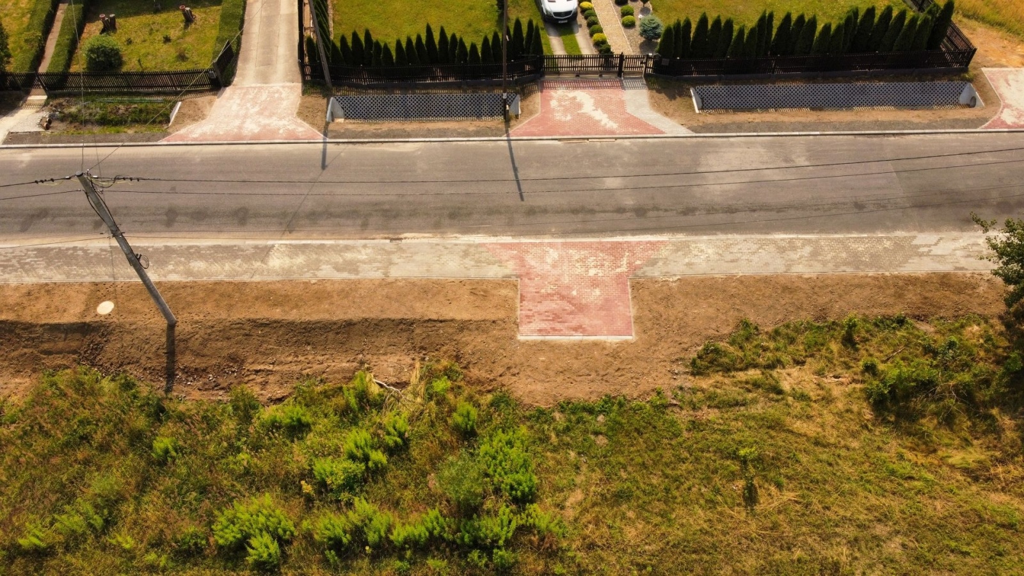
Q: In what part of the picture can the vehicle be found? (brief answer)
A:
top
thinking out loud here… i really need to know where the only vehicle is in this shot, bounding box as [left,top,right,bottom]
[537,0,577,25]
